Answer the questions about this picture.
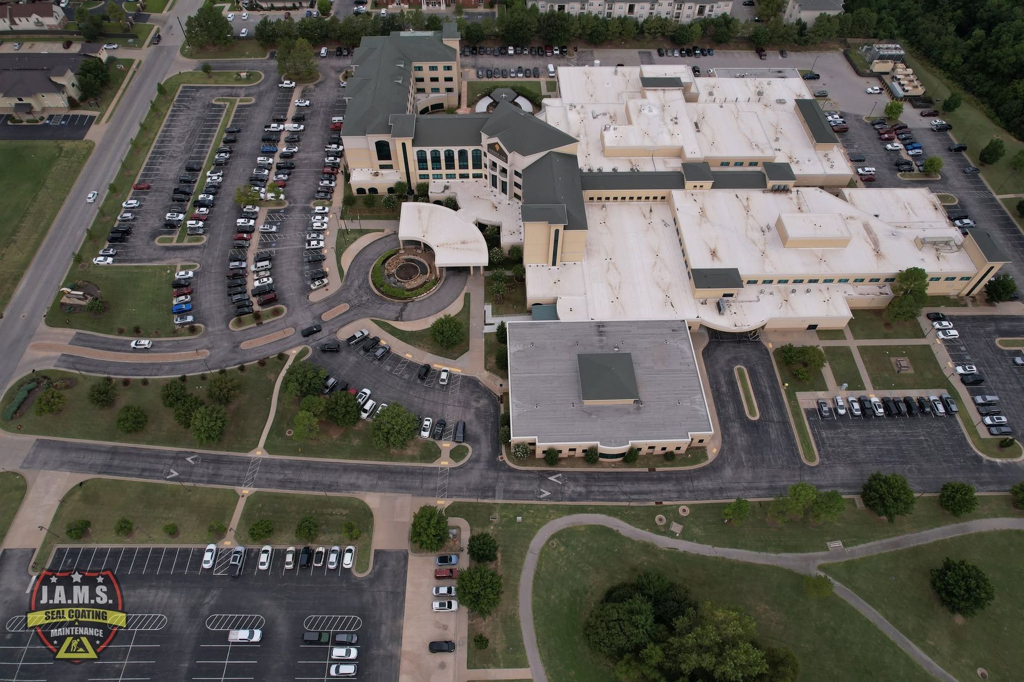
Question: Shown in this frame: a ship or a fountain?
fountain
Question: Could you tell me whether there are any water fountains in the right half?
No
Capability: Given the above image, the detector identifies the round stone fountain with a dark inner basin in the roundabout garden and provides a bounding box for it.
[385,256,435,301]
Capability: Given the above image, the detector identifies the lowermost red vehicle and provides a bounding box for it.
[434,567,460,581]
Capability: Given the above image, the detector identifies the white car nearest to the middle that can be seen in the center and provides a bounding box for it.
[438,368,450,386]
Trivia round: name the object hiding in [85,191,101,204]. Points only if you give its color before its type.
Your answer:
white vehicle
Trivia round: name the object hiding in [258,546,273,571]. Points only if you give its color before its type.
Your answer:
white car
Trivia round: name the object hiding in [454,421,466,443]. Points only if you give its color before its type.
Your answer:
gray vehicle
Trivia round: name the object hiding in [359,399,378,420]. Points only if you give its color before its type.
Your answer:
white car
